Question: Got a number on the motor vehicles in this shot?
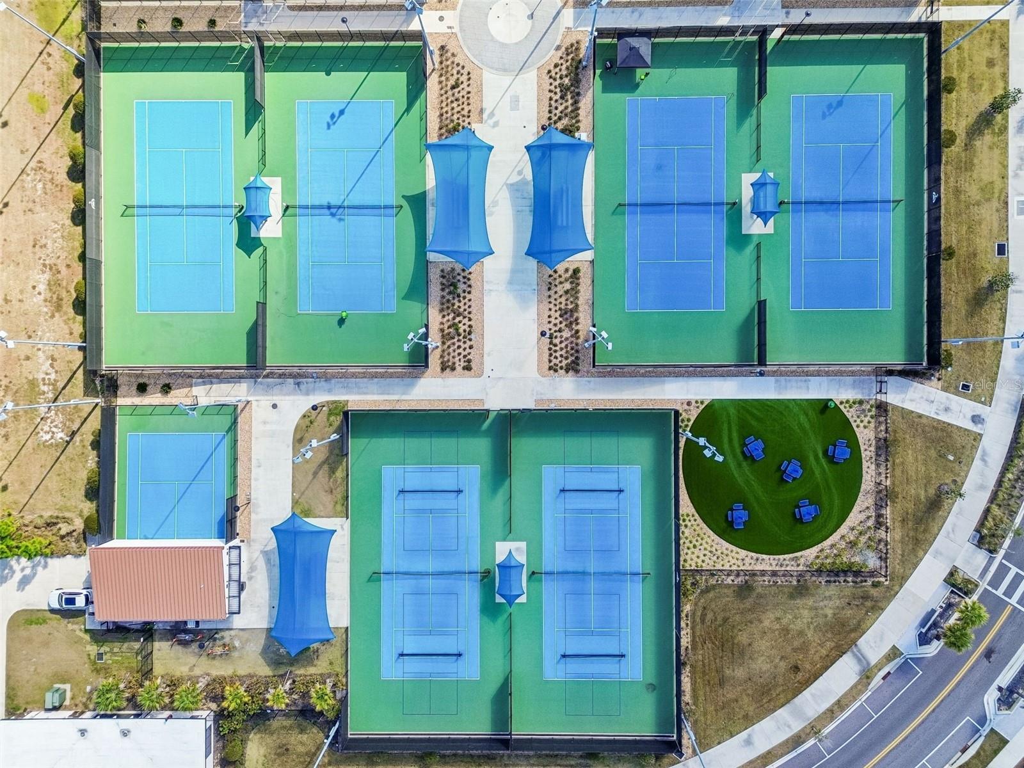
one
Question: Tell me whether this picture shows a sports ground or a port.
sports ground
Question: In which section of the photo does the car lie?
bottom left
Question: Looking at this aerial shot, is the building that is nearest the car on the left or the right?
left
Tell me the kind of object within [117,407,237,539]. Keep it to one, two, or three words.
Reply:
tennis court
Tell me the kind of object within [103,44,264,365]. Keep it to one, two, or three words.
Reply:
tennis court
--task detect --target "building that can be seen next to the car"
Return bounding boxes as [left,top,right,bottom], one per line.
[89,539,241,621]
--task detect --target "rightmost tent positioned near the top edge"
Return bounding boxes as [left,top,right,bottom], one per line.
[615,35,651,77]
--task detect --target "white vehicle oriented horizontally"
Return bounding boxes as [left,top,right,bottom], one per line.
[48,589,93,611]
